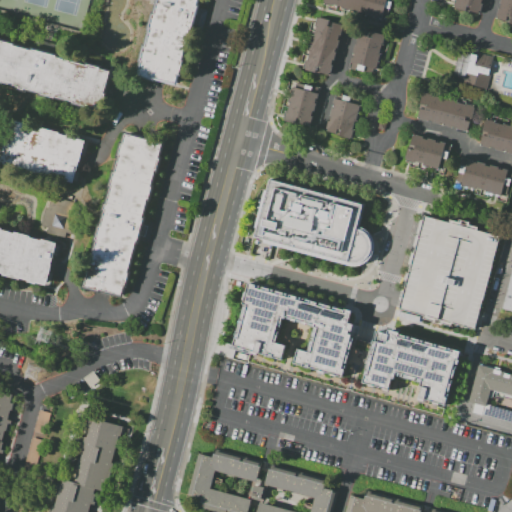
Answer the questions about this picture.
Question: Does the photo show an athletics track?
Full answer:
No, I can see no athletics track in this picture.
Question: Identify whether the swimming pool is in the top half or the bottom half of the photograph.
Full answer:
You can find the swimming pool in the top half.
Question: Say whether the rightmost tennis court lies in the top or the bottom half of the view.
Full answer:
Seen from above, the rightmost tennis court lies in the top half of the view.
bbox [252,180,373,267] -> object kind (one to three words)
building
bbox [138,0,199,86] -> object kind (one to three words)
building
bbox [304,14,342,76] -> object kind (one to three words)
house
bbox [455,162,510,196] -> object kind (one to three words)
house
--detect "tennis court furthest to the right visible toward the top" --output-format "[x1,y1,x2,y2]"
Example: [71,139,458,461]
[46,0,91,30]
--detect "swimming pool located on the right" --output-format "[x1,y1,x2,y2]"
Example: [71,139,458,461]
[491,61,512,98]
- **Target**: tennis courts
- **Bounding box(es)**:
[46,0,91,30]
[0,0,50,20]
